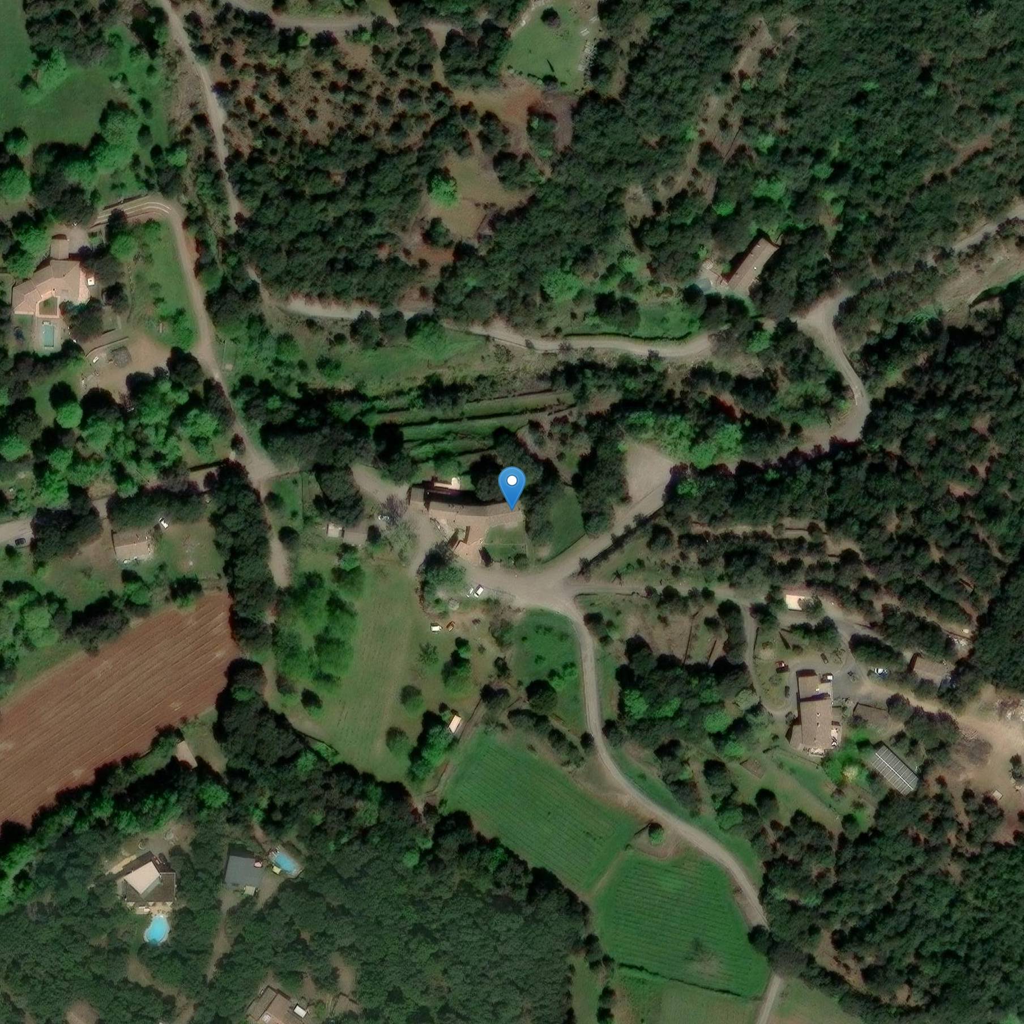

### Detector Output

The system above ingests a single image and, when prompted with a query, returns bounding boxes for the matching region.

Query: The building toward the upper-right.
[728,236,779,294]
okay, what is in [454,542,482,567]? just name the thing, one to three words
barn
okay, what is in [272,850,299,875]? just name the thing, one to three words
swimming pool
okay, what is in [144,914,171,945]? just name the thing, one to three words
swimming pool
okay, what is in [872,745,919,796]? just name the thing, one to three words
building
